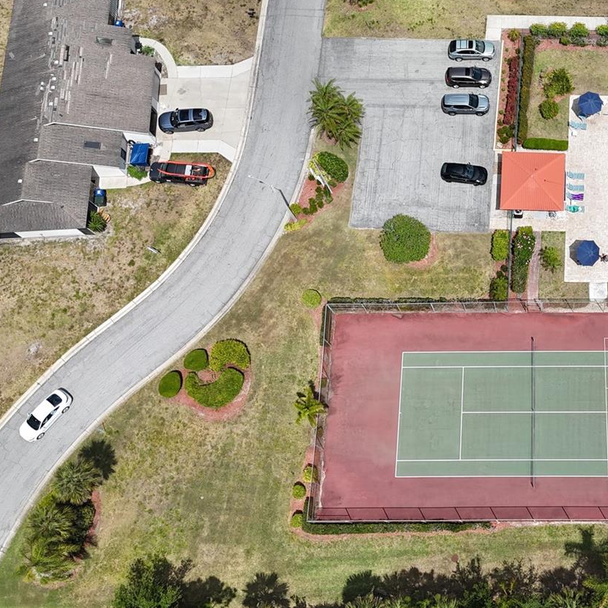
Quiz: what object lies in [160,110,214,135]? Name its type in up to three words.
car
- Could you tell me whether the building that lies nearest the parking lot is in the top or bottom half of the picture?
top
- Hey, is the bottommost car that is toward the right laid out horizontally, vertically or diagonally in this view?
horizontally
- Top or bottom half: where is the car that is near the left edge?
bottom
